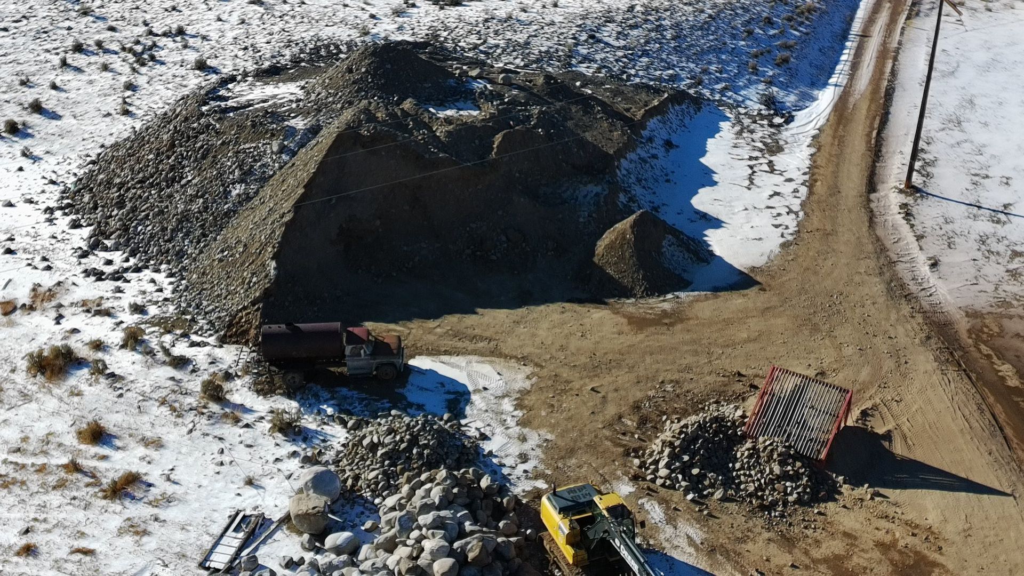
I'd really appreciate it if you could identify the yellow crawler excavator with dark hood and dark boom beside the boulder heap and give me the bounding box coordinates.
[532,480,656,576]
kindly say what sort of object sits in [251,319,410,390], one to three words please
truck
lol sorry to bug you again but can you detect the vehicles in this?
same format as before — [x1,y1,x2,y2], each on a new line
[532,480,656,576]
[251,319,410,390]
